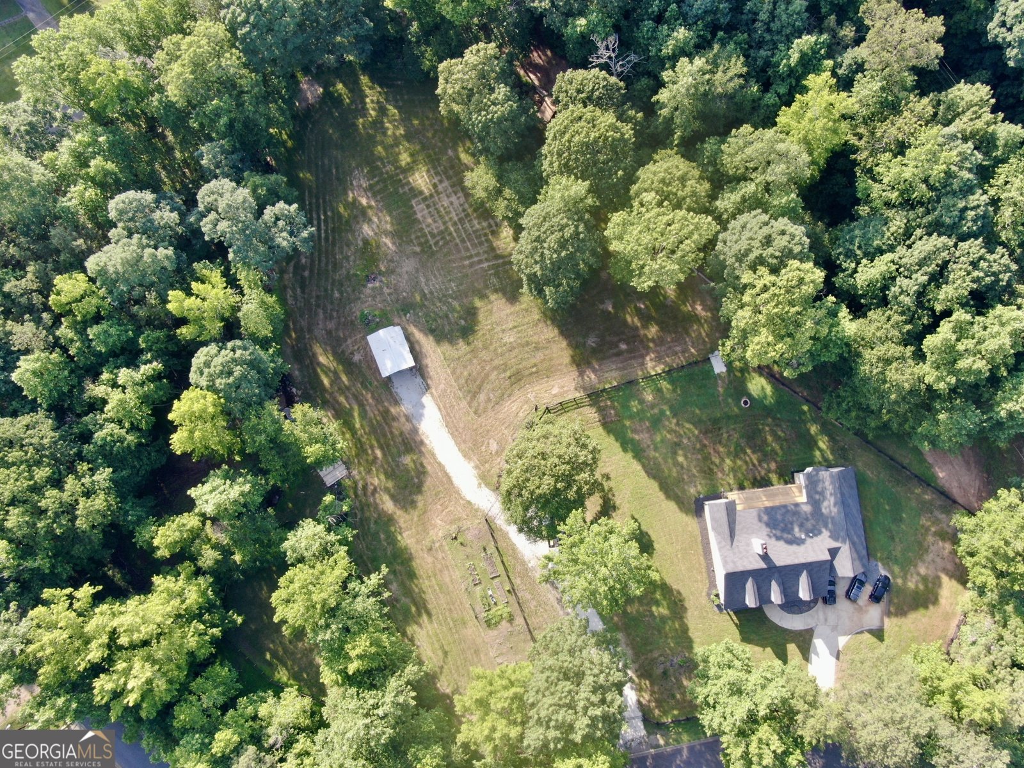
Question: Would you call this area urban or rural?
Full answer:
The area shown here is rural.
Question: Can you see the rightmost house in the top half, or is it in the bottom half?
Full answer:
The bottom half of the photo is where the rightmost house is.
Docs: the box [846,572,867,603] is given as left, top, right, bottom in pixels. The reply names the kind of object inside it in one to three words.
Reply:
car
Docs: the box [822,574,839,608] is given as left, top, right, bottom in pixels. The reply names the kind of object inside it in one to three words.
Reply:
vehicle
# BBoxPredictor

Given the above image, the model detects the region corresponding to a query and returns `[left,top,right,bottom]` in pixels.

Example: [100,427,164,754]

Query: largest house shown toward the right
[706,461,869,611]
